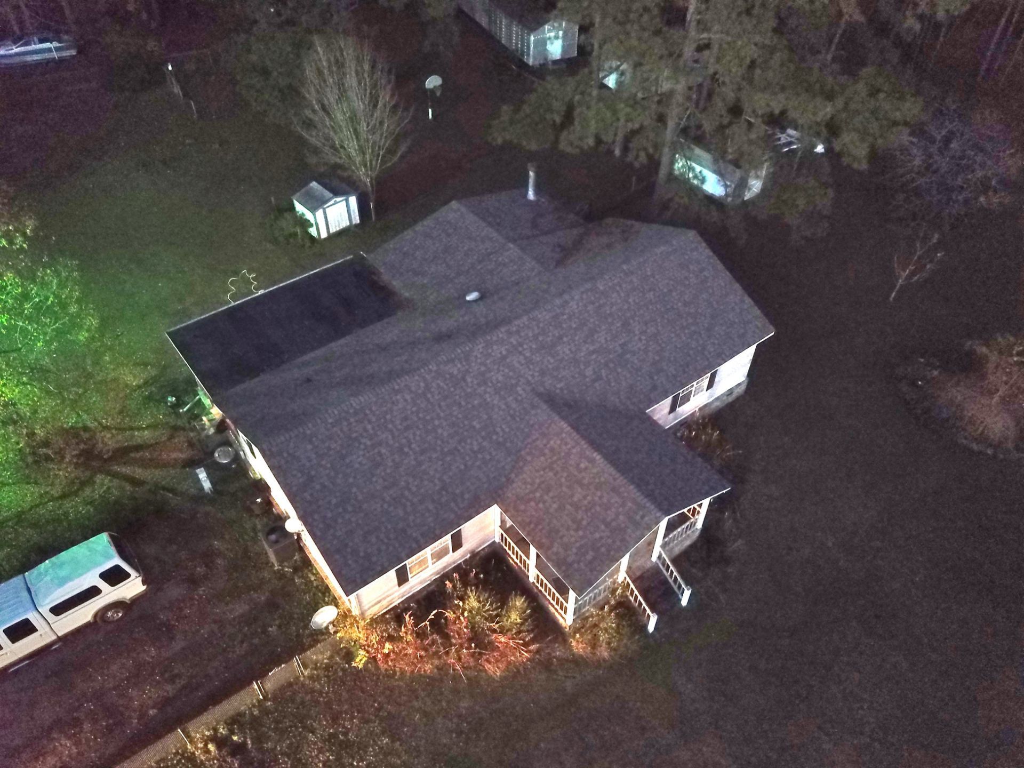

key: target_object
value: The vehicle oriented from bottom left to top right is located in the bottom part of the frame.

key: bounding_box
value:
[0,534,150,675]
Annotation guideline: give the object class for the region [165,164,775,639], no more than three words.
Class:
house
